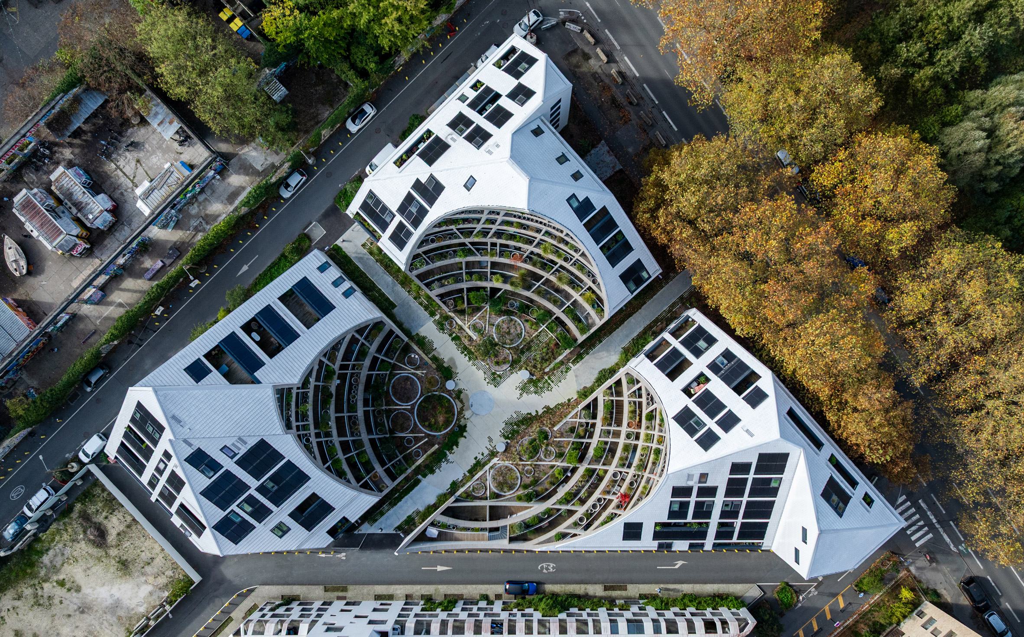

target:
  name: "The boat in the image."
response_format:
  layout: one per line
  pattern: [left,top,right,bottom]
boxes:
[1,233,28,277]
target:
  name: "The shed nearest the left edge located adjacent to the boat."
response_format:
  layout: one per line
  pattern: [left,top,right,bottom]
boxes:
[0,278,39,358]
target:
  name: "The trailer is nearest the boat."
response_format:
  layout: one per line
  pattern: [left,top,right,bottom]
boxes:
[13,188,98,258]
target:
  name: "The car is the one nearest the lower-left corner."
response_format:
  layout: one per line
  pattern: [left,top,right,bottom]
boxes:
[1,509,32,541]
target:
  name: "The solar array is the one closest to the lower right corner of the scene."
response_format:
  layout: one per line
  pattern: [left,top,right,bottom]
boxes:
[821,474,852,518]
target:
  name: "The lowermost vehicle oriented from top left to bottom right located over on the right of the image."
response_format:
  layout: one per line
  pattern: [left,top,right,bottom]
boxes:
[982,609,1013,637]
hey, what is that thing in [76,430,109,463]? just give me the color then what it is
white van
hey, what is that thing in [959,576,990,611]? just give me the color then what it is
black car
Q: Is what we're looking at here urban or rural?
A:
urban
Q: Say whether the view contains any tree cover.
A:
Yes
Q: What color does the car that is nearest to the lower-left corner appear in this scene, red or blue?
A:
blue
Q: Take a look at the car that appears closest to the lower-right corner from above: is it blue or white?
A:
blue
